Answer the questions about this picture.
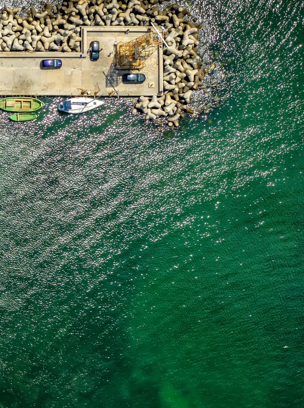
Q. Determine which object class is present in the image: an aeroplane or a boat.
boat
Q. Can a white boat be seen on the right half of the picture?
No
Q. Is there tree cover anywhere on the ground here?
No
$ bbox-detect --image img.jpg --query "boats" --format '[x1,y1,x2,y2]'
[56,92,105,114]
[10,113,40,121]
[0,96,46,113]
